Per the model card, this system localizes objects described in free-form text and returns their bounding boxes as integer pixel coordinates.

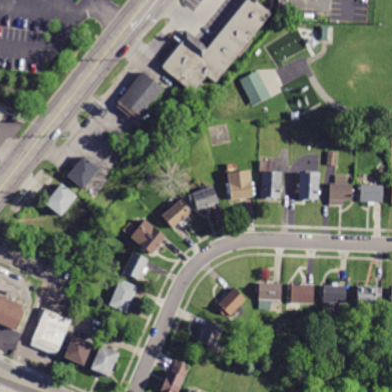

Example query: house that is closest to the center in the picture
[192,186,218,210]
